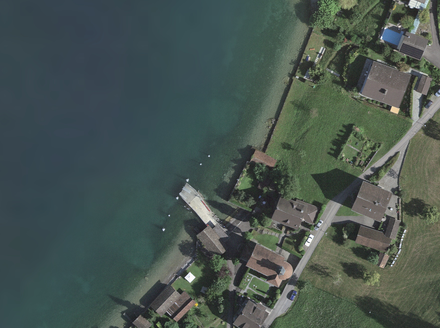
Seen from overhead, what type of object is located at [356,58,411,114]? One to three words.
house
